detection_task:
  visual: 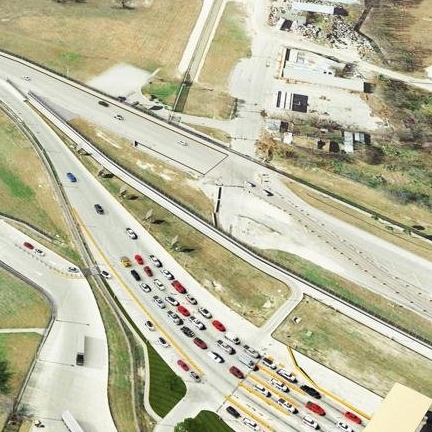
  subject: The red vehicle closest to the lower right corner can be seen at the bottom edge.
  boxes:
[342,410,363,425]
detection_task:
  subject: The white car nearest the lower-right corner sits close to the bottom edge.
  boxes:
[334,419,356,432]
